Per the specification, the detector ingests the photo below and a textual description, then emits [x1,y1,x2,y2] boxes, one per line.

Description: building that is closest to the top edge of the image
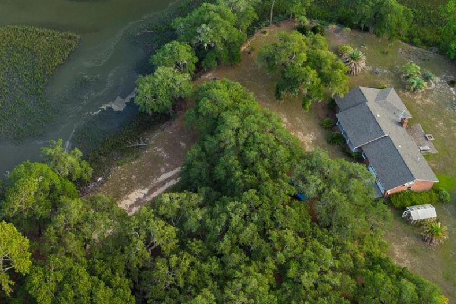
[333,85,440,200]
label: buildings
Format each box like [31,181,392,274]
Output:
[333,85,440,200]
[402,207,443,234]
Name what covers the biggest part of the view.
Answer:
trees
